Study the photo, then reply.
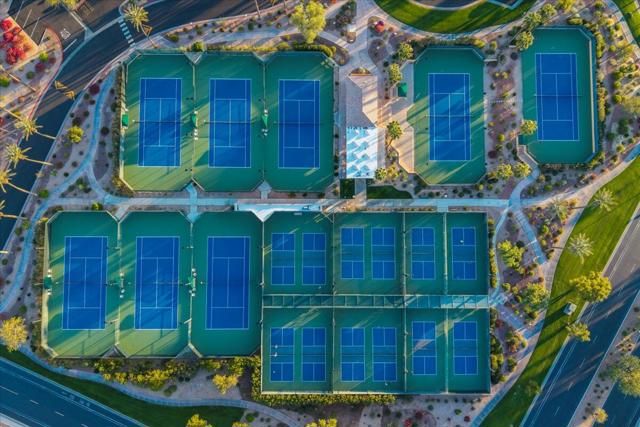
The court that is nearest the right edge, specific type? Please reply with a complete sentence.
What you see as the court that is nearest the right edge is a tennis court.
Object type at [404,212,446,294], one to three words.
sports court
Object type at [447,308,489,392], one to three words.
sports court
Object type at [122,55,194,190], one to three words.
tennis court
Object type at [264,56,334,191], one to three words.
tennis court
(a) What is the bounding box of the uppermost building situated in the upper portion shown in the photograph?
[345,76,378,131]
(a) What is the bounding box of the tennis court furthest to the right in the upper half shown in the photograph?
[518,28,594,162]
